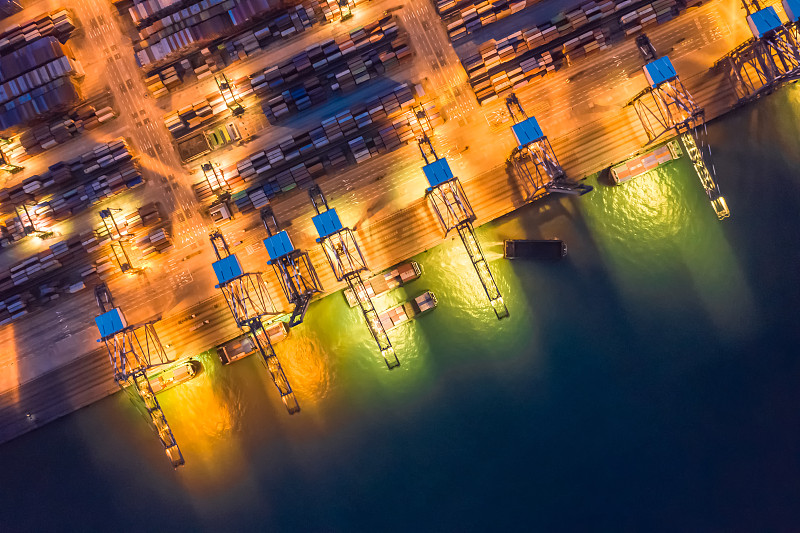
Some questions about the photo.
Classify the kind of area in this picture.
port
